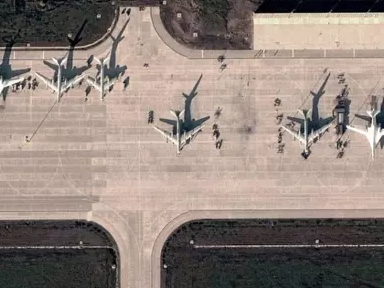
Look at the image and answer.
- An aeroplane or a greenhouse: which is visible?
aeroplane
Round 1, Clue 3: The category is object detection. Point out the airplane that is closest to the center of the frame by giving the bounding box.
[154,107,204,154]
